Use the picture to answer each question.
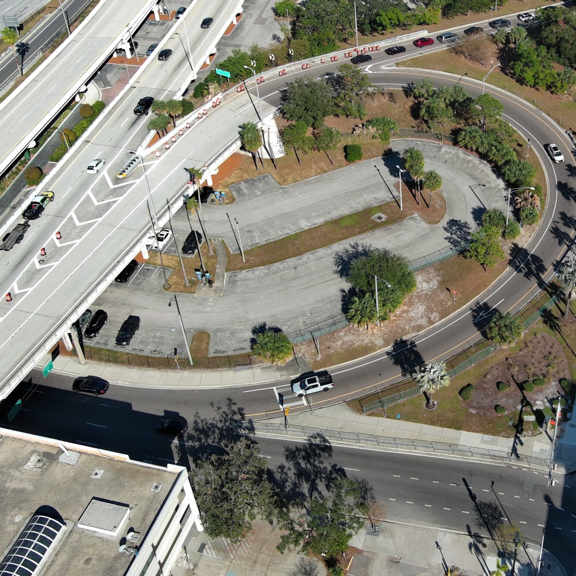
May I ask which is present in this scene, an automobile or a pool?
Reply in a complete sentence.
The image shows an automobile.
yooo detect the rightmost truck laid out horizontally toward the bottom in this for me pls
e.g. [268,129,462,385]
[292,373,334,395]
